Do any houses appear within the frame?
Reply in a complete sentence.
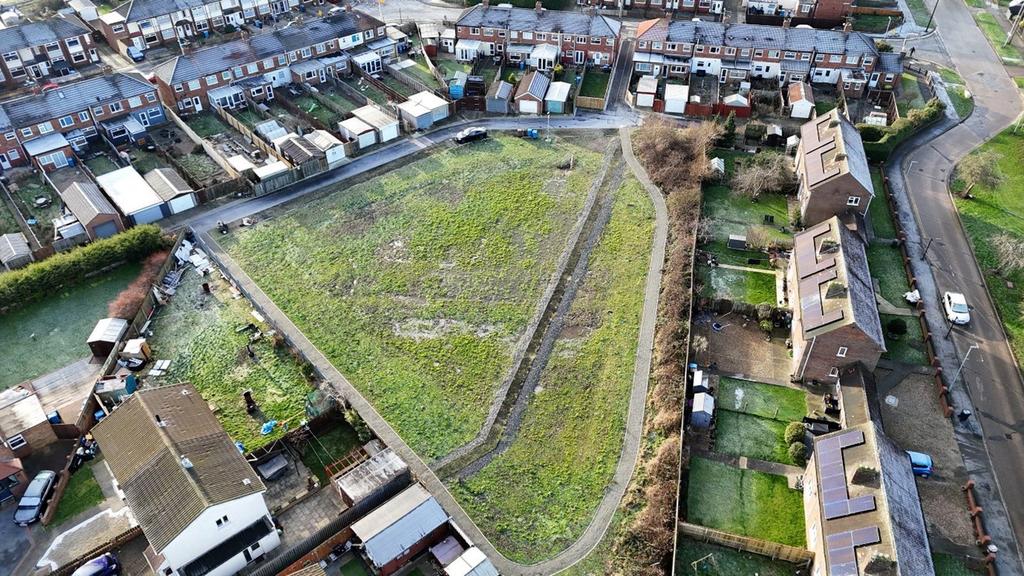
Yes, a house is visible in the scene.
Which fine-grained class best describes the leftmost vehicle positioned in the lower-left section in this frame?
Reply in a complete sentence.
It turns out the leftmost vehicle positioned in the lower-left section is a car.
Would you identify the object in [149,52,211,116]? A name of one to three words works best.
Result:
house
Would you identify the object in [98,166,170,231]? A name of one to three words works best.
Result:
building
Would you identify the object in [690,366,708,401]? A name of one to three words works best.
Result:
shed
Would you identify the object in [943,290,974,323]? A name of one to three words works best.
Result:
car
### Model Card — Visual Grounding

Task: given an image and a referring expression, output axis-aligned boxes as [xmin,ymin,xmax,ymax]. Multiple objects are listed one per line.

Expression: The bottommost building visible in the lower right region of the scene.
[796,419,951,576]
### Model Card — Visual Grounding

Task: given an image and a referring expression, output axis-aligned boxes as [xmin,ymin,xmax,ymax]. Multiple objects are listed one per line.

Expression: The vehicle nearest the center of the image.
[455,126,489,143]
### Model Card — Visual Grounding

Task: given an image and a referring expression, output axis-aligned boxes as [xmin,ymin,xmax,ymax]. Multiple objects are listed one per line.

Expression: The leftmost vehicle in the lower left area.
[11,468,60,528]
